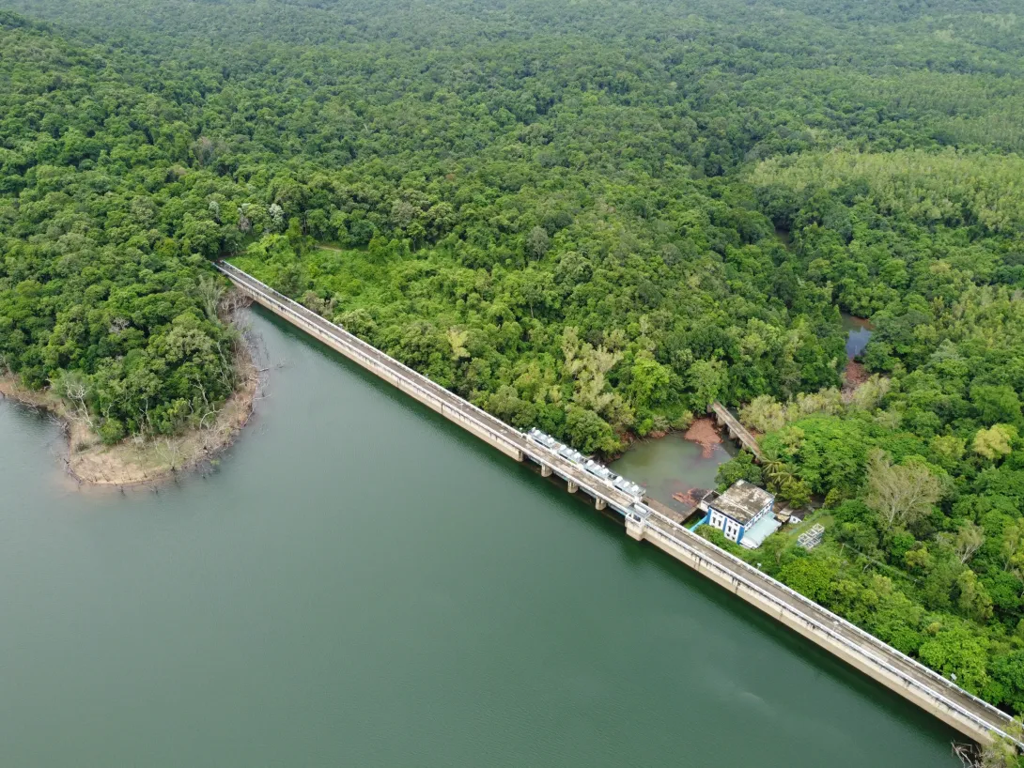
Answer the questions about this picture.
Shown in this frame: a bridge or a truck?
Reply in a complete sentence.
This aerial view contains a bridge.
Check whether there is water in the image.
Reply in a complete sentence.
Yes, the picture does contain water.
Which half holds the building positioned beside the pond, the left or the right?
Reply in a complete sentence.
You can find the building positioned beside the pond on the right side of the picture.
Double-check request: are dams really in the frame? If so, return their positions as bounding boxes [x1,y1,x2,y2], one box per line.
[201,252,1024,752]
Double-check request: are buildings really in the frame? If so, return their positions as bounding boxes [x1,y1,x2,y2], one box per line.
[790,507,804,524]
[694,476,786,551]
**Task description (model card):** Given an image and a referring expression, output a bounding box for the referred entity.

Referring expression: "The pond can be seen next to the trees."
[602,423,744,519]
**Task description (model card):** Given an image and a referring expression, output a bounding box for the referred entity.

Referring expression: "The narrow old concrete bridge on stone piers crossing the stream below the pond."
[705,399,766,461]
